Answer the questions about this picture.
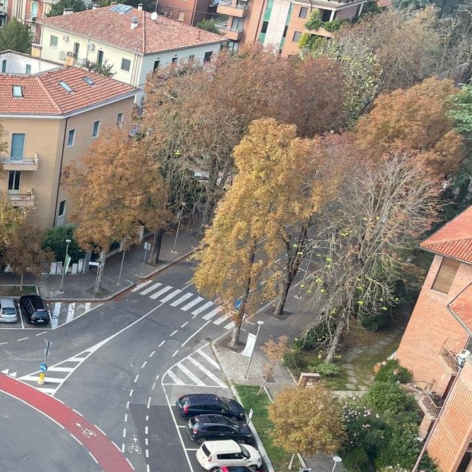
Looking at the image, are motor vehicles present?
Yes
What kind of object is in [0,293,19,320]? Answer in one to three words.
car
